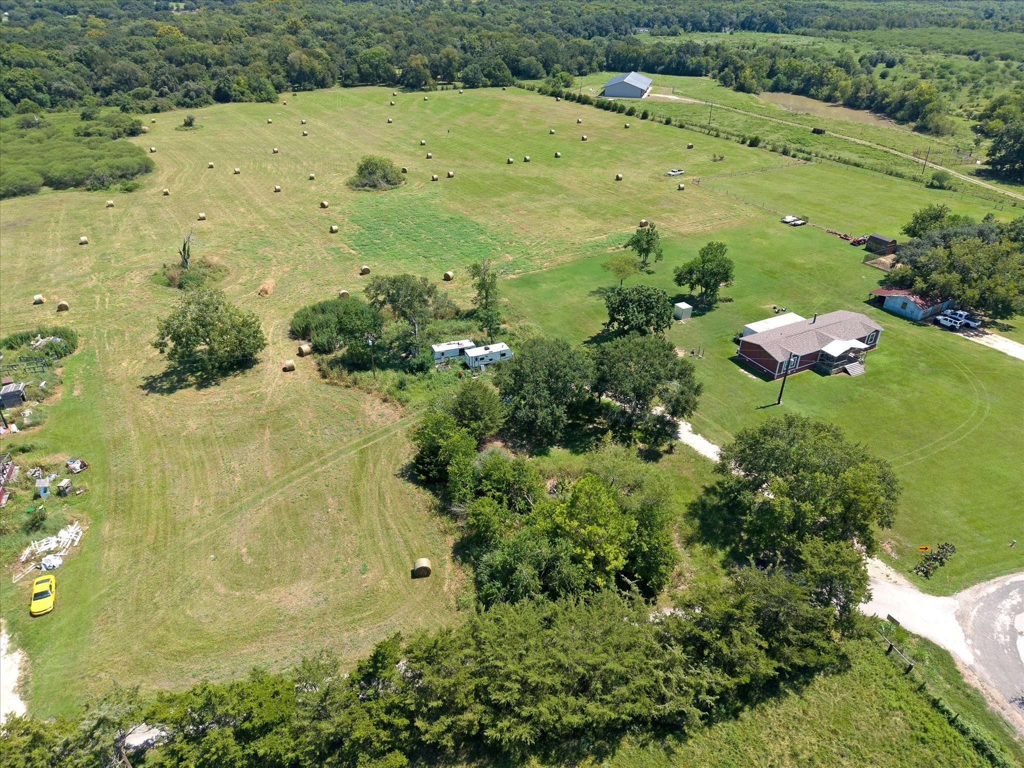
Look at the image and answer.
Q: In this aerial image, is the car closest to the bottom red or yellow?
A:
yellow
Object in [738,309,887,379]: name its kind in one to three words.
house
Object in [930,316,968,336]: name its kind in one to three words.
car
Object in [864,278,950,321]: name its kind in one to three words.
barn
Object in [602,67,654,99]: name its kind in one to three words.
building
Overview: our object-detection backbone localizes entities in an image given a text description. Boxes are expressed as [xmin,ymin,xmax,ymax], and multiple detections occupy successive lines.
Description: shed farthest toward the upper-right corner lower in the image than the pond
[867,231,901,257]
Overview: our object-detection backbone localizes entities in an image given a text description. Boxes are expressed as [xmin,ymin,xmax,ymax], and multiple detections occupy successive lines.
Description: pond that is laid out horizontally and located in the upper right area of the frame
[762,96,898,132]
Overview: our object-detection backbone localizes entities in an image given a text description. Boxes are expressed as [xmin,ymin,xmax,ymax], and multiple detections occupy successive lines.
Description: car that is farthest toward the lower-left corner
[25,568,62,616]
